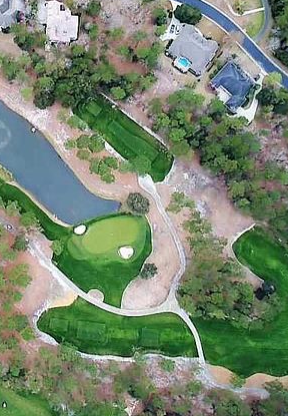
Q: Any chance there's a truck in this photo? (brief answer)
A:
No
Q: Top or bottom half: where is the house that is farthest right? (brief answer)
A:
top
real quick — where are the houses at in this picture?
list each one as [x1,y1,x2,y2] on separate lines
[0,0,16,27]
[165,22,223,76]
[208,61,255,111]
[46,0,78,42]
